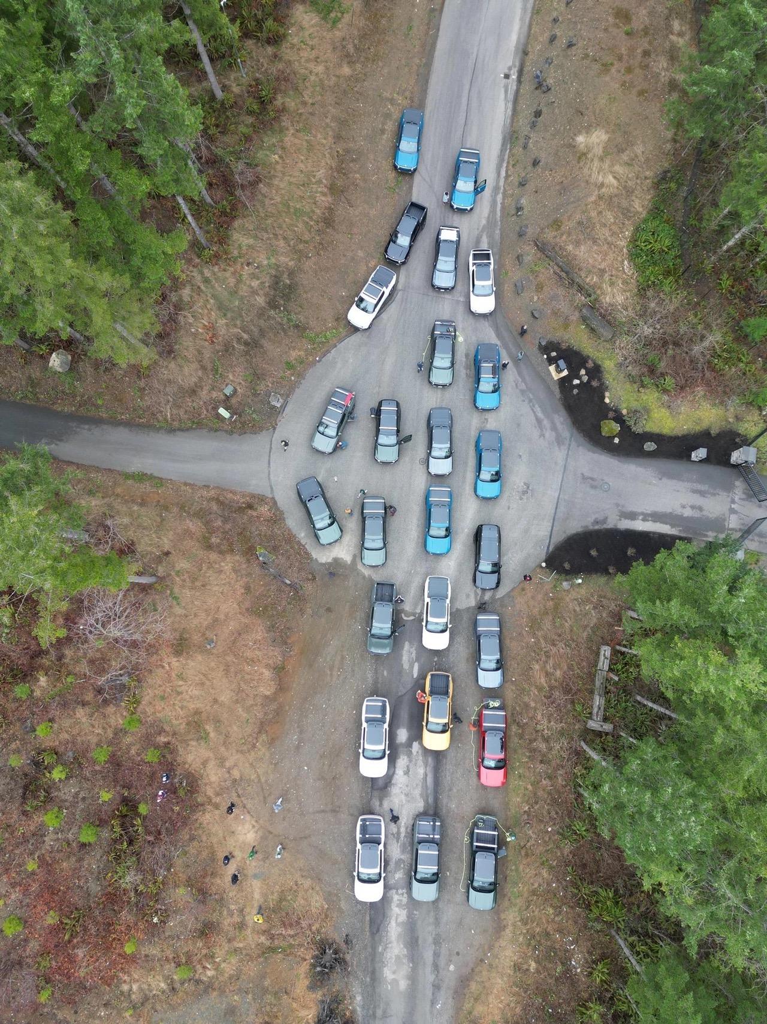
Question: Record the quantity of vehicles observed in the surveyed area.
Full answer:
The photo contains 25 vehicles.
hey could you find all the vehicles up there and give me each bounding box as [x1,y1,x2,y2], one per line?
[423,484,455,556]
[372,399,415,464]
[425,406,456,476]
[364,580,411,655]
[473,429,505,500]
[387,201,427,267]
[466,819,501,912]
[352,815,386,900]
[427,319,458,388]
[313,385,354,456]
[473,343,504,411]
[421,672,454,751]
[298,475,340,548]
[472,523,504,591]
[468,249,498,315]
[358,495,389,567]
[395,109,423,172]
[477,701,511,788]
[452,148,493,213]
[421,576,453,650]
[358,697,391,777]
[350,265,397,331]
[432,226,461,292]
[474,613,507,688]
[409,815,443,901]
